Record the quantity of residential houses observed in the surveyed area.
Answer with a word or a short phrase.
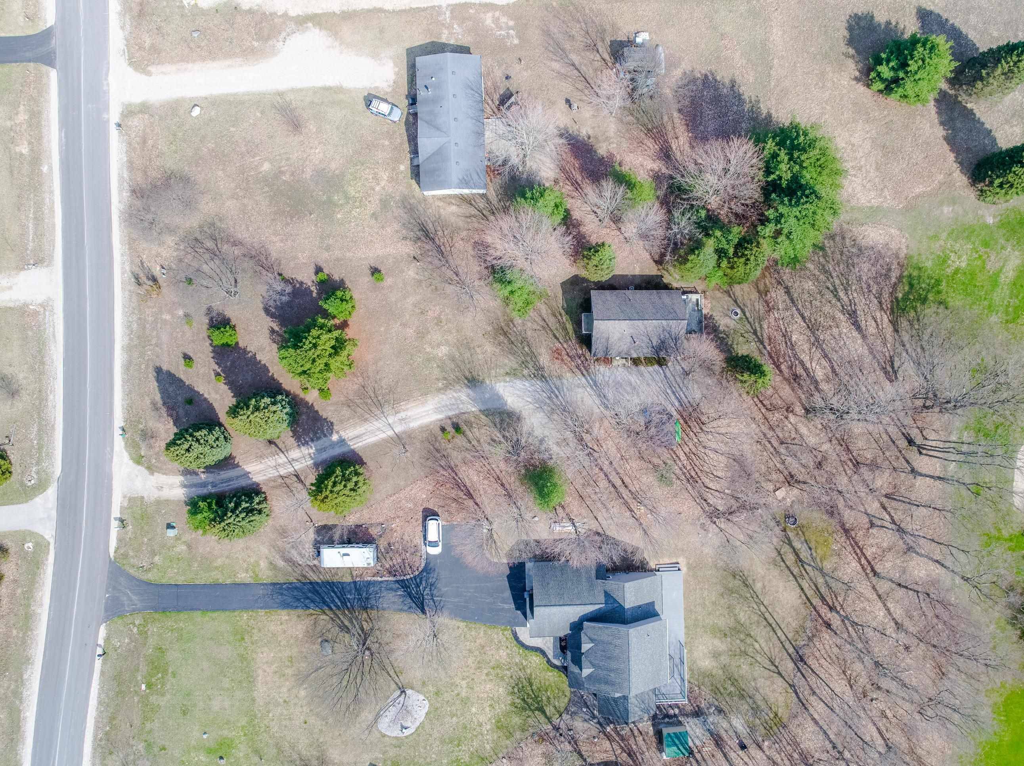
3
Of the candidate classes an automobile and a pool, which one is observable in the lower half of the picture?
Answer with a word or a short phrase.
automobile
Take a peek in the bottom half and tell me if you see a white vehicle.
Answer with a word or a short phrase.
Yes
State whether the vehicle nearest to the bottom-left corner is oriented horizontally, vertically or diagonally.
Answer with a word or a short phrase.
horizontally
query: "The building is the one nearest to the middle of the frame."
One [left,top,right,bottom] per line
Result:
[581,289,707,372]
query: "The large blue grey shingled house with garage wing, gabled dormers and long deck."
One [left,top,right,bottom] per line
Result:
[524,556,688,723]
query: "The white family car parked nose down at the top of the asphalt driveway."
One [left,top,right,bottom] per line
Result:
[424,516,443,554]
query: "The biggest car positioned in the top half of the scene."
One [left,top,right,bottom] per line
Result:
[365,97,405,124]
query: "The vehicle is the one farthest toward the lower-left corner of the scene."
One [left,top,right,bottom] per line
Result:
[318,543,378,568]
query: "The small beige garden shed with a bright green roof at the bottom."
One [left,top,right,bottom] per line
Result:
[662,724,689,757]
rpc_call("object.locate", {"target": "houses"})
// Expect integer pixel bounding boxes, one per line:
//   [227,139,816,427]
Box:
[524,556,688,723]
[403,52,521,196]
[581,289,707,372]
